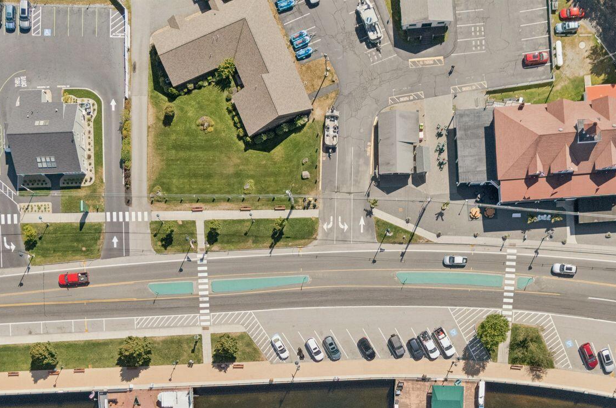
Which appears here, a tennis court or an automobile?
automobile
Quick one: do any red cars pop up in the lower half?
Yes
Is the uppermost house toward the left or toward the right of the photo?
right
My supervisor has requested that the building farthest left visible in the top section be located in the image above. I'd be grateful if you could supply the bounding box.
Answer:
[4,90,84,175]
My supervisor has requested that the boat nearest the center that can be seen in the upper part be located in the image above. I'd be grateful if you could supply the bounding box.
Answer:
[325,108,339,155]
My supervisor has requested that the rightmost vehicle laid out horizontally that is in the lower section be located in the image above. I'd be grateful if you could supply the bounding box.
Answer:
[550,263,578,276]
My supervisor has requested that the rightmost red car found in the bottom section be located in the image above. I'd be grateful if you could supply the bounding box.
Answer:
[579,341,596,370]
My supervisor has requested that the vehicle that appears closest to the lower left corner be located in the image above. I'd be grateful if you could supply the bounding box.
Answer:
[59,271,91,285]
